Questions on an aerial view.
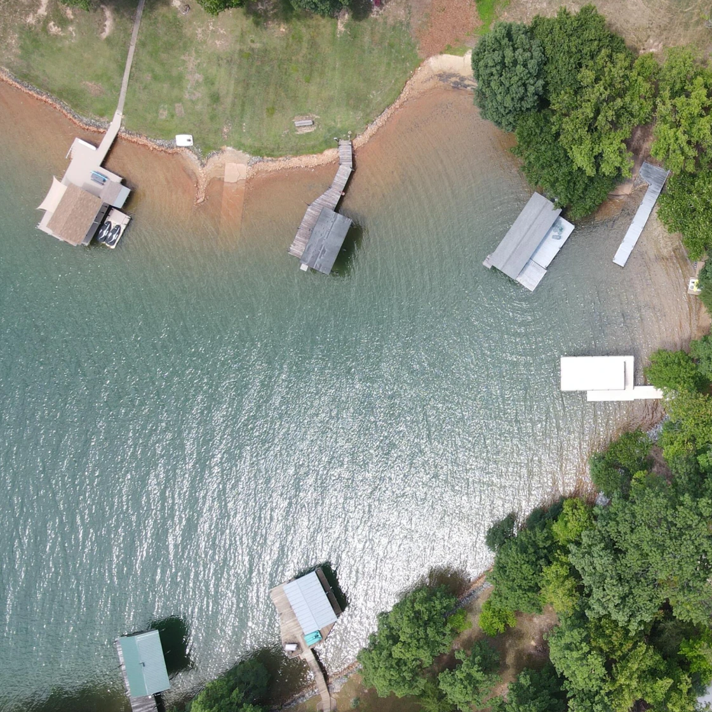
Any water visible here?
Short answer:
Yes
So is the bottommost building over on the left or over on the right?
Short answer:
left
